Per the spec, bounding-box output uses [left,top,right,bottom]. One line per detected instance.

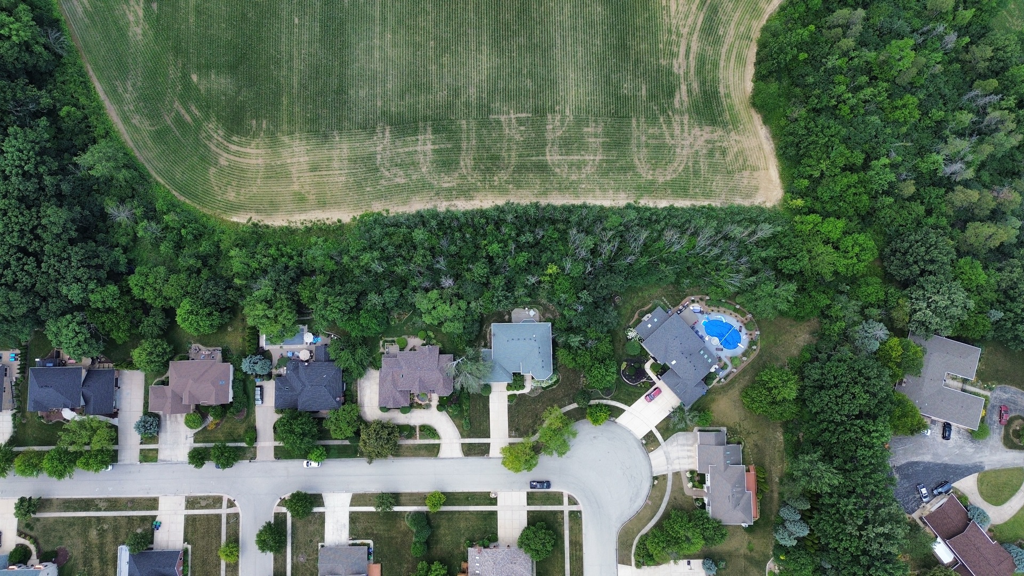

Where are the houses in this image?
[891,331,986,429]
[122,545,190,576]
[482,319,553,383]
[467,543,532,576]
[275,346,345,411]
[633,306,719,406]
[27,357,124,414]
[694,430,753,527]
[318,541,370,576]
[378,345,454,409]
[0,364,16,412]
[914,491,1022,576]
[0,549,69,576]
[149,351,237,415]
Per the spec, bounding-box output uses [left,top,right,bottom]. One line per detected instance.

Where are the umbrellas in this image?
[304,333,313,342]
[299,349,310,360]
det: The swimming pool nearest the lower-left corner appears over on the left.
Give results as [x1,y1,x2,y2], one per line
[265,326,305,346]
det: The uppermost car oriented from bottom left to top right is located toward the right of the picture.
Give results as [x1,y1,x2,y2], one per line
[644,386,662,402]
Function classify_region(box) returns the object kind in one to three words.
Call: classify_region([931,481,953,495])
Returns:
car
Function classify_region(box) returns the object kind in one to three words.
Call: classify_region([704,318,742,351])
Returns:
swimming pool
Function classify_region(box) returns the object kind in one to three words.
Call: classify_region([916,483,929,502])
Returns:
vehicle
